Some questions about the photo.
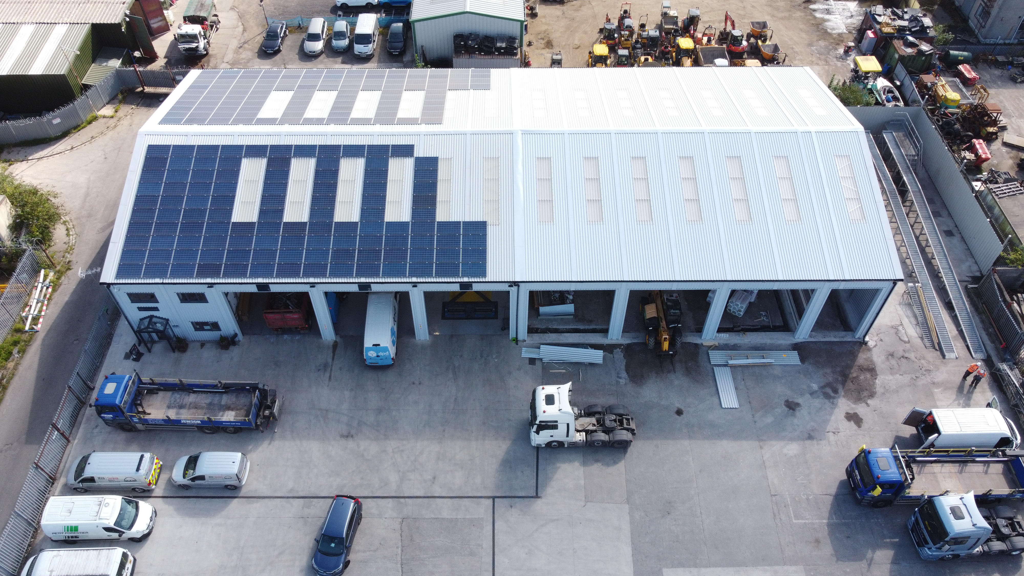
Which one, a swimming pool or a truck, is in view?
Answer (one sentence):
It is a truck that can be seen here.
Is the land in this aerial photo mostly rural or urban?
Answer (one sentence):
From above, the setting appears urban.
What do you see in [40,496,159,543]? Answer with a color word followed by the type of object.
white van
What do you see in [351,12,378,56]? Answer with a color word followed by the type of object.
white vehicle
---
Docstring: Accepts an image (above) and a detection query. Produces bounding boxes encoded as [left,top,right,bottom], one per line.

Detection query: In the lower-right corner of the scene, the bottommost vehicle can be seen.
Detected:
[907,490,1024,559]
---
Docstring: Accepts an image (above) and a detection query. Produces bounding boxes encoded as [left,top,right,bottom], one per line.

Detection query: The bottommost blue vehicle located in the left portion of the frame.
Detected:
[309,494,363,576]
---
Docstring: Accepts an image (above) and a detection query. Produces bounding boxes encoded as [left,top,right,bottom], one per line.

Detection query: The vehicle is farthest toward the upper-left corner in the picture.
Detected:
[171,0,224,54]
